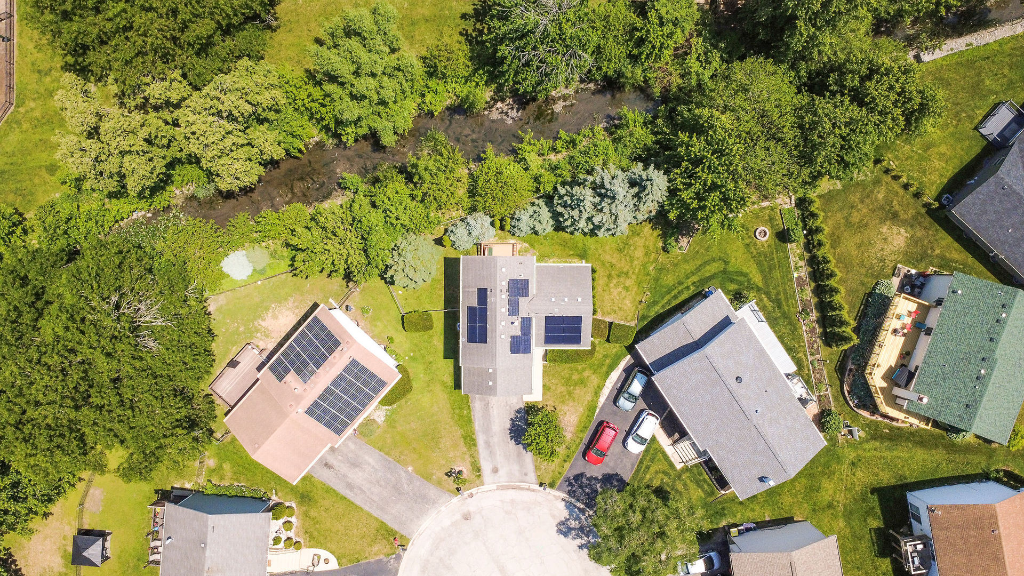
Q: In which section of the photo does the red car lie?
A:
bottom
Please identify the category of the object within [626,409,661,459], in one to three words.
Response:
car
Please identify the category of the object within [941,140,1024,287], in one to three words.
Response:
house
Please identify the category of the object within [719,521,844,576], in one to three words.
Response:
house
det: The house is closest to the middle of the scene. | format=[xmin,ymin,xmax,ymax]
[459,255,594,396]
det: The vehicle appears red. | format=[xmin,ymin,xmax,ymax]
[586,421,619,469]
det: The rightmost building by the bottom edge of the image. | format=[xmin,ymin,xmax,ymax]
[903,479,1024,576]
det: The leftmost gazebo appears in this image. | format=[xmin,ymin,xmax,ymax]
[71,528,116,566]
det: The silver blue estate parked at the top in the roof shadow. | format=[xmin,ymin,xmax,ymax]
[617,366,652,416]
